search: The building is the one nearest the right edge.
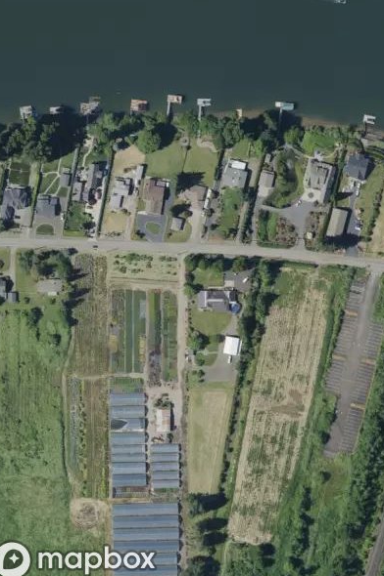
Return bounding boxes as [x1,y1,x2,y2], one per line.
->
[344,155,368,180]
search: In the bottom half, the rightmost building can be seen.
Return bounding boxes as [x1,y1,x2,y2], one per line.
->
[224,337,243,355]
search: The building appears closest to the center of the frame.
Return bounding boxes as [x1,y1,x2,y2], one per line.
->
[197,291,236,310]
